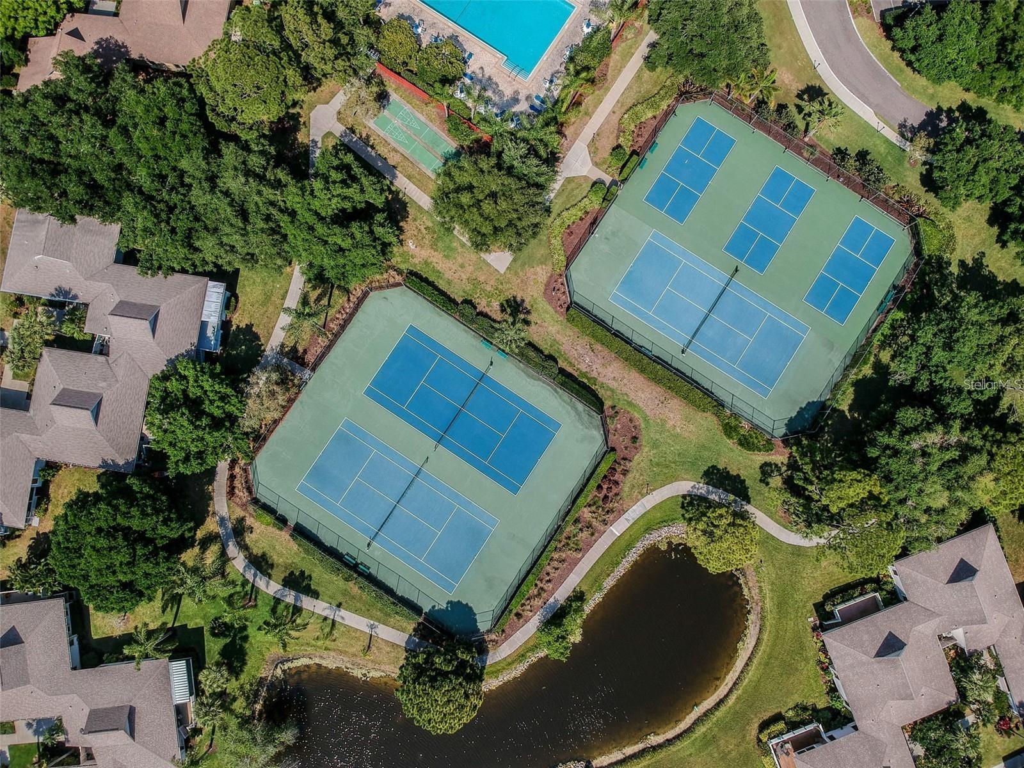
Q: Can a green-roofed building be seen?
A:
No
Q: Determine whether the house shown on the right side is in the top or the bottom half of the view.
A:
bottom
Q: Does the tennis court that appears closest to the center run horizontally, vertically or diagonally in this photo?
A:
diagonally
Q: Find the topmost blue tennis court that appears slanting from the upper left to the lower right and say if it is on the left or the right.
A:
right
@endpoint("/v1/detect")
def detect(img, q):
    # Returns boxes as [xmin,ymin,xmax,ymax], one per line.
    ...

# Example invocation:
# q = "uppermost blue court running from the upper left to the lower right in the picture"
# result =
[609,229,811,399]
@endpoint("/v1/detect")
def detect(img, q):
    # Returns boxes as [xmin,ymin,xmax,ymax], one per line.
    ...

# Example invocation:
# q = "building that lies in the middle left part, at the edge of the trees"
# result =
[0,205,235,530]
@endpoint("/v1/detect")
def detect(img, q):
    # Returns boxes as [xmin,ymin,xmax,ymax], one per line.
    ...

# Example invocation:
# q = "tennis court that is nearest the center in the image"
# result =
[362,323,563,496]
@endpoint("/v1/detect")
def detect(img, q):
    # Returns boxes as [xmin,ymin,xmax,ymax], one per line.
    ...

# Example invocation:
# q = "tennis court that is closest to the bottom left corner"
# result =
[297,417,499,594]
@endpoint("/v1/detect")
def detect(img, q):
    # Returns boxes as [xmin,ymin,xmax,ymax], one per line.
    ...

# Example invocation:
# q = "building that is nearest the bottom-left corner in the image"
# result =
[0,586,205,768]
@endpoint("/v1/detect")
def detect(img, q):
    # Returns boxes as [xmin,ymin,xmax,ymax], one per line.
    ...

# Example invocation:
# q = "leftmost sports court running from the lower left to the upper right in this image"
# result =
[643,116,737,225]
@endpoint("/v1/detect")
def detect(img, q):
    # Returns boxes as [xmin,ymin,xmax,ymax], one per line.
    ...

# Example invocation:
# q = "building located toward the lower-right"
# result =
[769,523,1024,768]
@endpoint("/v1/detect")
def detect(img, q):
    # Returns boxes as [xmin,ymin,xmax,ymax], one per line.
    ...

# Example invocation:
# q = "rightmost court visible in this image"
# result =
[802,215,897,326]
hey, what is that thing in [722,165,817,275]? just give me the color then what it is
blue sports court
